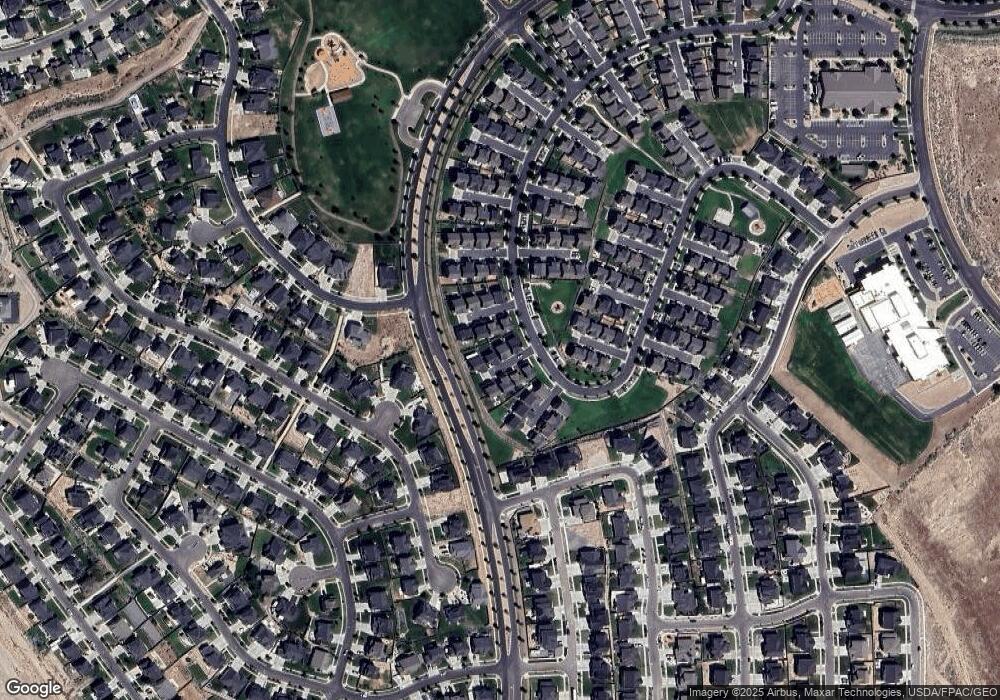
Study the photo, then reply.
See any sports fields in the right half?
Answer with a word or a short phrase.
Yes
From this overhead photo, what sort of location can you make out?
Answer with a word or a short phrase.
residential area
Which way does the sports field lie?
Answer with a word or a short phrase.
diagonally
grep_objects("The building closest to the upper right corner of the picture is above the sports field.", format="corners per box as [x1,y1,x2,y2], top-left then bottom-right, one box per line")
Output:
[819,64,899,116]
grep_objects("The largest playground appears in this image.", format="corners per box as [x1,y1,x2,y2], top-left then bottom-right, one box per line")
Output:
[305,32,365,92]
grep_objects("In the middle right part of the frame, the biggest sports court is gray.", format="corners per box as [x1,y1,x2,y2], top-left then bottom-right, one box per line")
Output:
[850,330,910,398]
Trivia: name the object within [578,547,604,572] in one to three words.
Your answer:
house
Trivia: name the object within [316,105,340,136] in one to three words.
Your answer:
basketball court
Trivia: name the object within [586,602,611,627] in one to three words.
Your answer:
house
